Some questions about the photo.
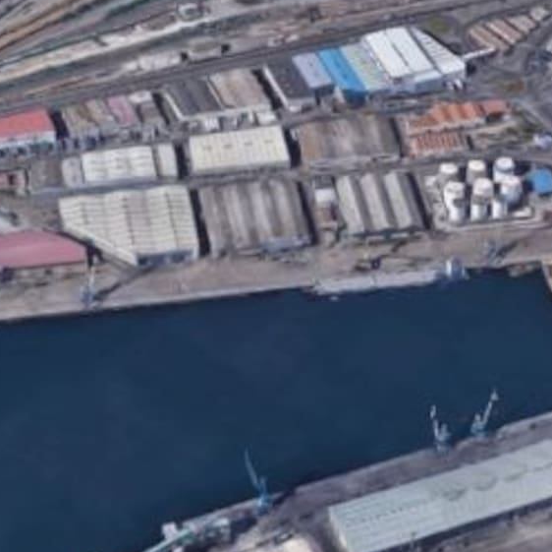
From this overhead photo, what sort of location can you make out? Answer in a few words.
port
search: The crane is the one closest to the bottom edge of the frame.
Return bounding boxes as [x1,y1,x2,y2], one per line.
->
[251,444,274,514]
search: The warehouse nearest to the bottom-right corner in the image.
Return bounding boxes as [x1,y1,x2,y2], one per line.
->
[330,441,552,552]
